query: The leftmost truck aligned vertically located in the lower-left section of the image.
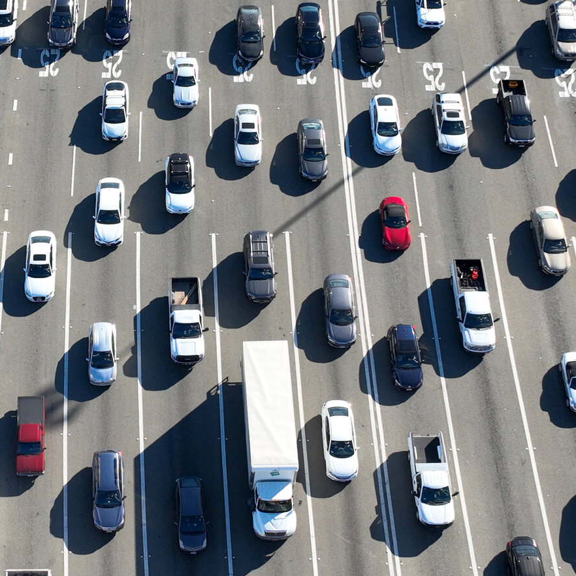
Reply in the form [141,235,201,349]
[11,393,48,476]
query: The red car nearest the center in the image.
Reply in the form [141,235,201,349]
[377,198,413,251]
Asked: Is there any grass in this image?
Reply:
No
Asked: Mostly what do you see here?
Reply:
paved ground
